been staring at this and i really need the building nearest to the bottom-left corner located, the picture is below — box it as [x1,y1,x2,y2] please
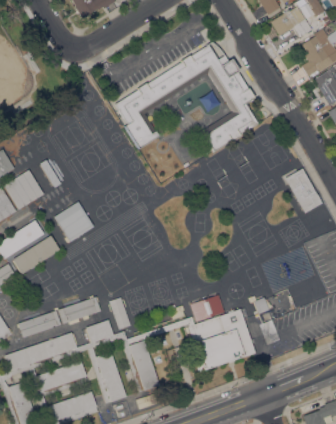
[9,382,32,424]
